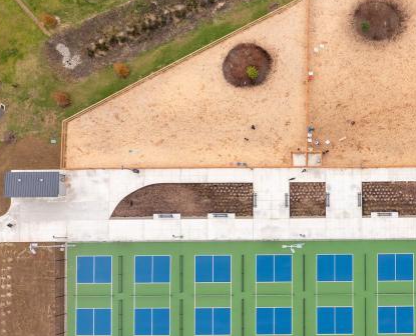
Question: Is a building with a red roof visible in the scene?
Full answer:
No, I can see no building with a red roof in this picture.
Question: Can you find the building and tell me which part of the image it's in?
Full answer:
Look in the left portion of the view to spot the building.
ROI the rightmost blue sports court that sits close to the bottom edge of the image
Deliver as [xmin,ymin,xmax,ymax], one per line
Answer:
[377,253,414,334]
